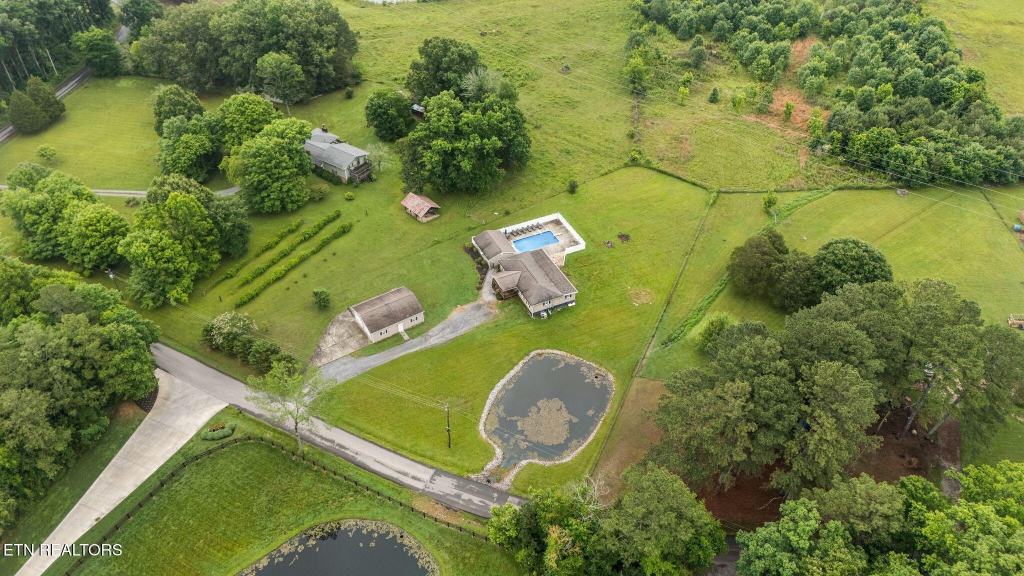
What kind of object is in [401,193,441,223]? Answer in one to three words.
building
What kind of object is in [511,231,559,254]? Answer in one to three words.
swimming pool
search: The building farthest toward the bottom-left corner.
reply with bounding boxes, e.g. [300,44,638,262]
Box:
[350,286,425,343]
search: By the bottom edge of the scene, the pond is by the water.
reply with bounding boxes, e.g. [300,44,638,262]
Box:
[245,521,438,576]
